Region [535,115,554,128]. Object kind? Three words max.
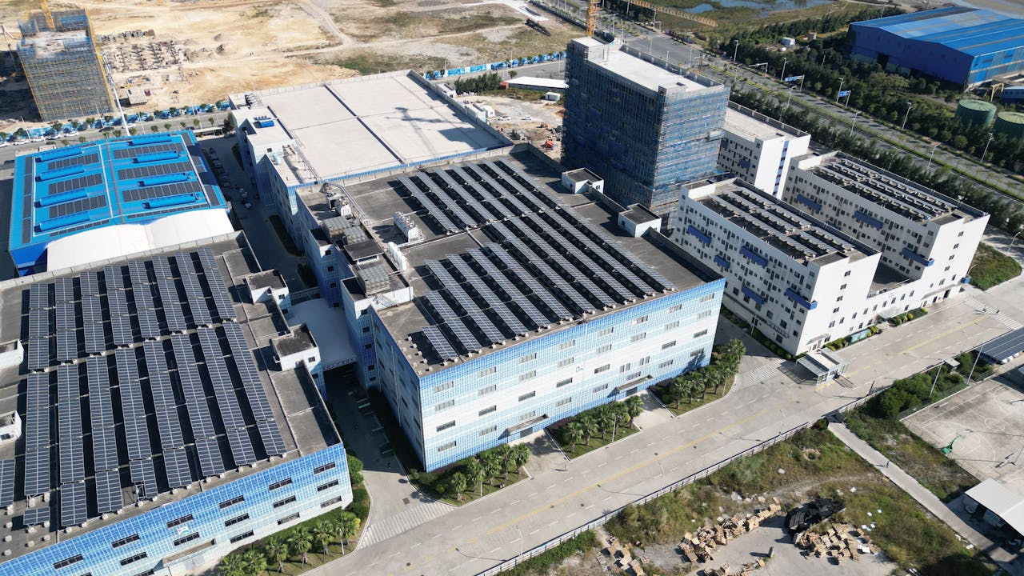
vehicle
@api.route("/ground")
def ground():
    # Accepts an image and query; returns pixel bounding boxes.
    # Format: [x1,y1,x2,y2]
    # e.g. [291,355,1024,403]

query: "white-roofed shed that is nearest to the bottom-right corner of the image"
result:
[963,475,1024,531]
